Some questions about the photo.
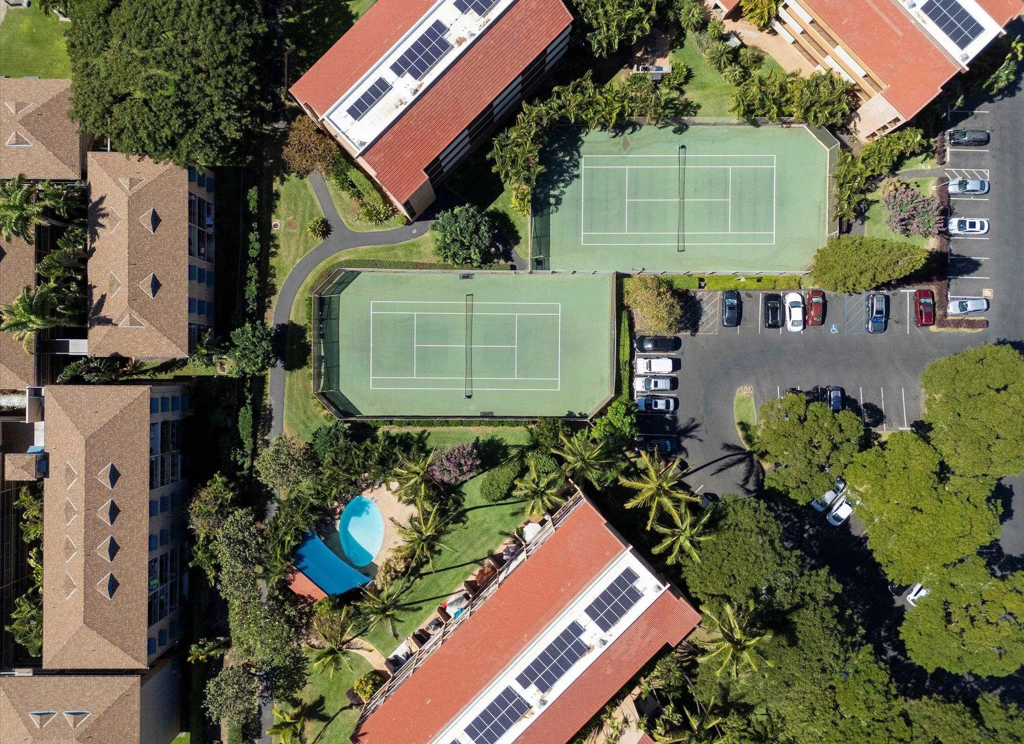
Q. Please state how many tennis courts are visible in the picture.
2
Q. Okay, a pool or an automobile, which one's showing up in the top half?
automobile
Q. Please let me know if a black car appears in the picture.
Yes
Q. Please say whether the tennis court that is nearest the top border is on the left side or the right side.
right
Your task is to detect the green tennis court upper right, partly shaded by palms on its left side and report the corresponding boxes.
[533,125,827,270]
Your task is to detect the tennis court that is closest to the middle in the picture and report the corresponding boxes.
[322,273,609,416]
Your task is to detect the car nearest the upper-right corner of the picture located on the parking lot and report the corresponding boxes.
[945,128,989,148]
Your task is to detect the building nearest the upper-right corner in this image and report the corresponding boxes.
[761,0,1024,144]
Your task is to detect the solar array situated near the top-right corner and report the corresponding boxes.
[921,0,983,50]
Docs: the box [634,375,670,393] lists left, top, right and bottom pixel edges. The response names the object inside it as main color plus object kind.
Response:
white car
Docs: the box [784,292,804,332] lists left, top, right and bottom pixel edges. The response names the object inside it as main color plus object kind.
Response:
white car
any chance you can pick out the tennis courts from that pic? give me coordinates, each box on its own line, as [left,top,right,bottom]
[533,125,827,270]
[322,273,609,416]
